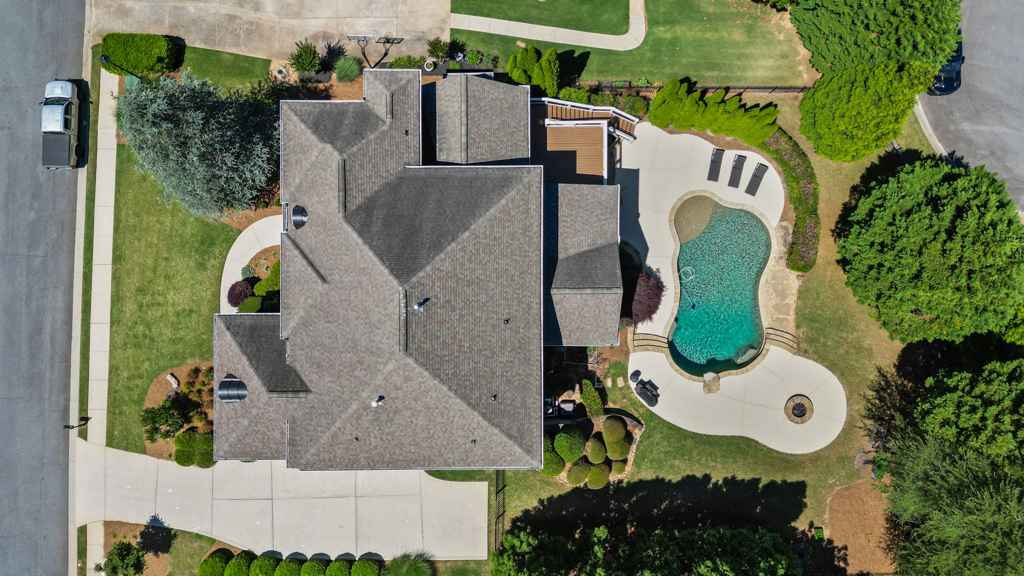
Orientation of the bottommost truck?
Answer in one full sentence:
I'd say the bottommost truck is aligned vertically in the picture.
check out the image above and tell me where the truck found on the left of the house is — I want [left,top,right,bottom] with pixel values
[37,77,85,170]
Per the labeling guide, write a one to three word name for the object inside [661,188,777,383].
swimming pool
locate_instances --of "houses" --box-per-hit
[212,67,623,471]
